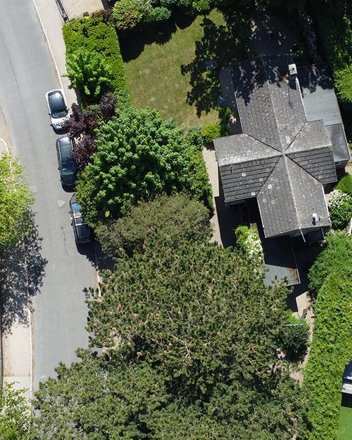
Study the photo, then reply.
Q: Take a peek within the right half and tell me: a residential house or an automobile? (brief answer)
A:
residential house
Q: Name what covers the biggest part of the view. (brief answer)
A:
trees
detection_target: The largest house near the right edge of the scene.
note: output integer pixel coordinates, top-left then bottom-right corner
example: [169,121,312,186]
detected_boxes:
[214,53,350,241]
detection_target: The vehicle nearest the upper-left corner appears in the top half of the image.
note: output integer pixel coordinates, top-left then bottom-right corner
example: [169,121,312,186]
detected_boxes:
[44,88,70,134]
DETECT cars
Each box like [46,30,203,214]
[44,88,70,134]
[52,136,81,194]
[65,191,96,247]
